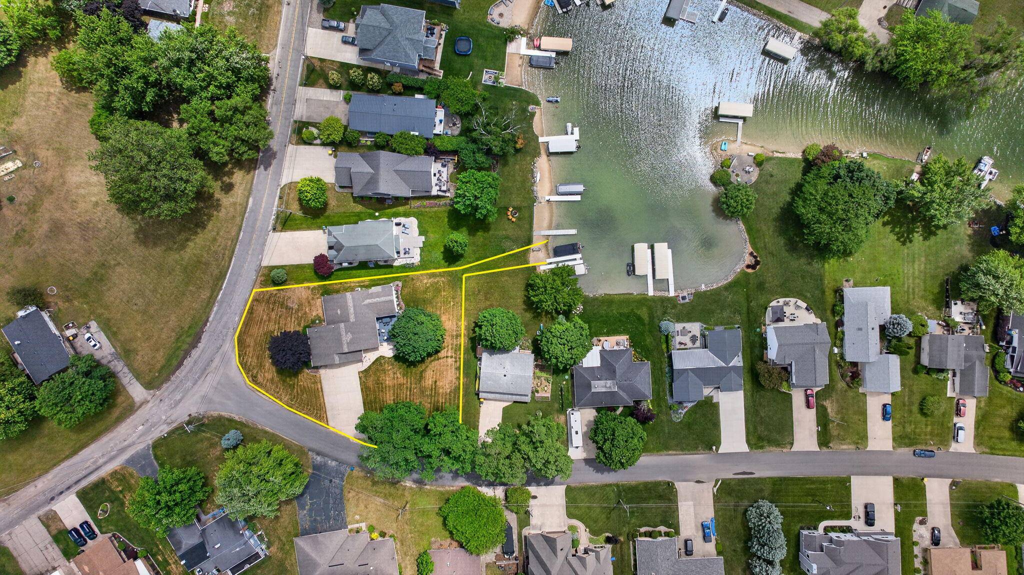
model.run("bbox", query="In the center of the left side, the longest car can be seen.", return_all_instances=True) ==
[84,331,101,351]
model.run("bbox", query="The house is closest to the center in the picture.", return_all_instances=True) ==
[479,338,534,402]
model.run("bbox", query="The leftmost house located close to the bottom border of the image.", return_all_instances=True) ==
[72,536,144,575]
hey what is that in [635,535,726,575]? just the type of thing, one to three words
house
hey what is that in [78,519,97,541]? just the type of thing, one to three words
car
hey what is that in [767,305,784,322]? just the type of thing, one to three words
gazebo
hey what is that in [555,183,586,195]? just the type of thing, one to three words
boat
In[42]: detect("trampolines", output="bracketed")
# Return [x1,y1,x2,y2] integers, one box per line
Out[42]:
[455,38,472,55]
